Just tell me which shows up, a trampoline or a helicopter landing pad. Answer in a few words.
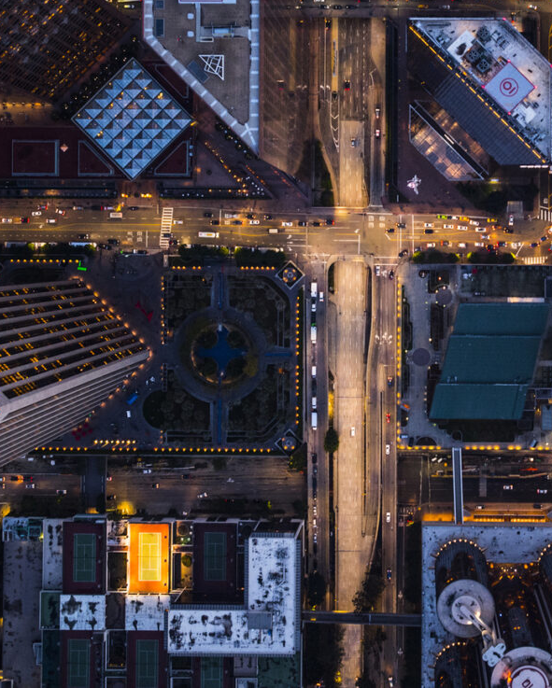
helicopter landing pad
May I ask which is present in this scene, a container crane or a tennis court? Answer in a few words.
tennis court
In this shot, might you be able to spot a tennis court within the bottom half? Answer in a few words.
Yes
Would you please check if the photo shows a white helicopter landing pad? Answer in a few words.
No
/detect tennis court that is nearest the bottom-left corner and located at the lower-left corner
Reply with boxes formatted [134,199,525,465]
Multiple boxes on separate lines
[66,639,91,687]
